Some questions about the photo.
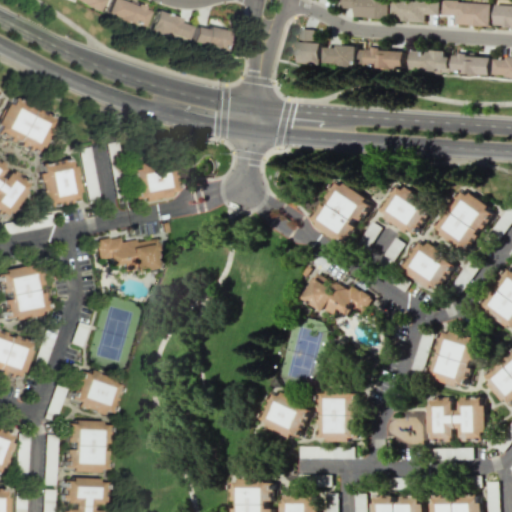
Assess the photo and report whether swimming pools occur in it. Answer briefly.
Yes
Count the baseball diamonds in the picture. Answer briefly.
0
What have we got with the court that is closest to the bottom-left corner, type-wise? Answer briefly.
tennis court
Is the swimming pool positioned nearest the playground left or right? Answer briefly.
right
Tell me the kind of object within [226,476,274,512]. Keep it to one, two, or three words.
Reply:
building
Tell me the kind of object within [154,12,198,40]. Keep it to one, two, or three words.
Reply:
house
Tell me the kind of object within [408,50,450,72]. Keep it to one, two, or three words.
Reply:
house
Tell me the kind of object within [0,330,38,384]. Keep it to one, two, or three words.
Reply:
building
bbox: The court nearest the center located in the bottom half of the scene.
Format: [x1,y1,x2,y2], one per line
[281,319,328,384]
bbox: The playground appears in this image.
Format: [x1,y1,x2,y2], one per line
[389,417,426,446]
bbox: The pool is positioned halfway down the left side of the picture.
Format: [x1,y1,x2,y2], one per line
[118,278,149,299]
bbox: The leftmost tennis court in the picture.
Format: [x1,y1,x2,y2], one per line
[90,297,142,370]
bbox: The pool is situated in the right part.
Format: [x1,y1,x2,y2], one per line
[355,326,380,347]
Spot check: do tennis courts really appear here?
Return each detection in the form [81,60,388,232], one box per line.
[90,297,142,370]
[281,319,328,384]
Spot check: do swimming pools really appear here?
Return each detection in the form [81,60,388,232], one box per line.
[118,278,149,299]
[355,326,380,347]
